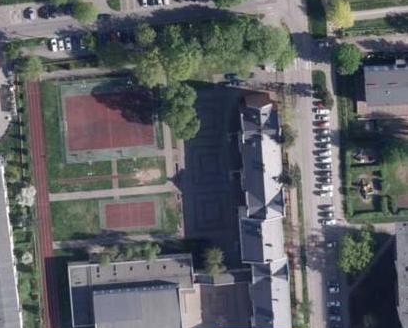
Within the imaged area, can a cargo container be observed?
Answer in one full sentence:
No, the picture doesn't show any cargo container.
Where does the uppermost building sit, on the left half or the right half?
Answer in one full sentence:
The uppermost building sits on the right side.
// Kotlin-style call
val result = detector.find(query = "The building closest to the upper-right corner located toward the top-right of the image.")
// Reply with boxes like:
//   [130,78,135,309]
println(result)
[363,53,408,105]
